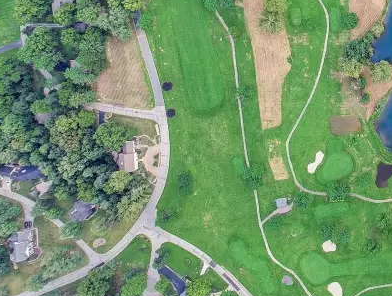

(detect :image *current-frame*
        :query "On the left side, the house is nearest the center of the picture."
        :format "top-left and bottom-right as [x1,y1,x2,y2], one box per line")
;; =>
[111,141,138,171]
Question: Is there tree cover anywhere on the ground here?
Yes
